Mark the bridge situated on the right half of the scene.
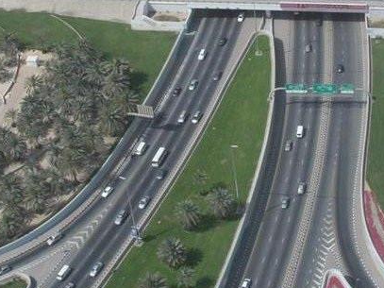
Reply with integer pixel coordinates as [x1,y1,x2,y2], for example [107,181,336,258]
[189,0,370,15]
